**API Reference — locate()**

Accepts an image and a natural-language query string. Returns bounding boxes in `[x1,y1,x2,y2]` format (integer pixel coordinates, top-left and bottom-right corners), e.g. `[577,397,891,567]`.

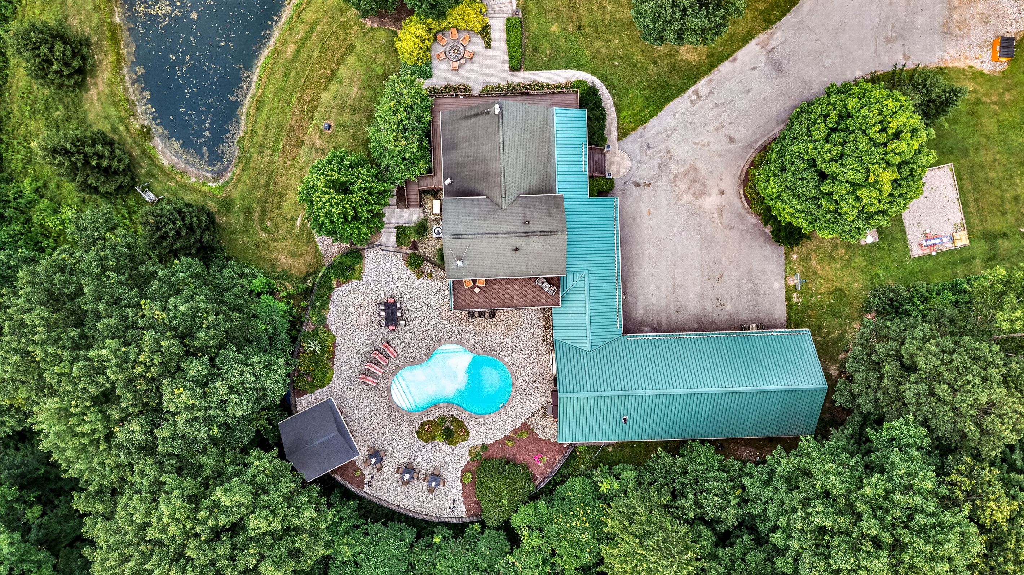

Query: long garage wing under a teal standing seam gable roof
[554,328,829,444]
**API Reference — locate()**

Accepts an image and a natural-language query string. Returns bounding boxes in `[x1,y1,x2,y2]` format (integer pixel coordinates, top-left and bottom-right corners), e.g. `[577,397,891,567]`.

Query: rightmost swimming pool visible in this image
[385,338,518,421]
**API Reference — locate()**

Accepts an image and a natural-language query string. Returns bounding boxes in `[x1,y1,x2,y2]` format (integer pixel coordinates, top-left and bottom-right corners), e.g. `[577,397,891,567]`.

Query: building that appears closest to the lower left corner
[279,394,366,483]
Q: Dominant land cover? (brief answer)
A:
trees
